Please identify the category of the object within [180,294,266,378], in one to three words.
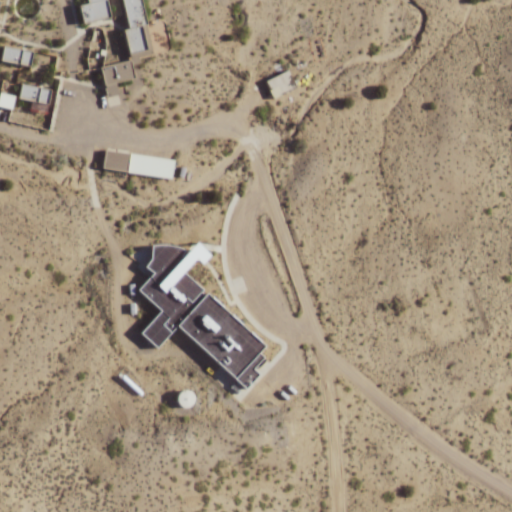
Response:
building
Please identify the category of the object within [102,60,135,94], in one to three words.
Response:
building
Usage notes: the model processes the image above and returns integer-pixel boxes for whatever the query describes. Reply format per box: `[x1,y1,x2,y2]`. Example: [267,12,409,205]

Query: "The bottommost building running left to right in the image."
[102,150,176,180]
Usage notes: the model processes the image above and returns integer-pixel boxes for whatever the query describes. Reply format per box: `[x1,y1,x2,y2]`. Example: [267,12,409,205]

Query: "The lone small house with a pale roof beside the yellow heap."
[266,70,296,97]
